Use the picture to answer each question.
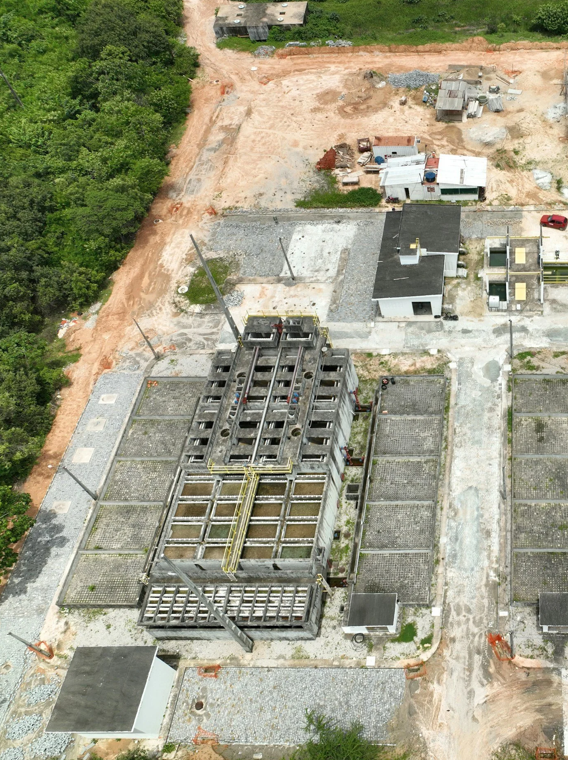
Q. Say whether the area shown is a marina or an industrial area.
industrial area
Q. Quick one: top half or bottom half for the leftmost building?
bottom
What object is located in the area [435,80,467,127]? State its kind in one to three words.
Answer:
shed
